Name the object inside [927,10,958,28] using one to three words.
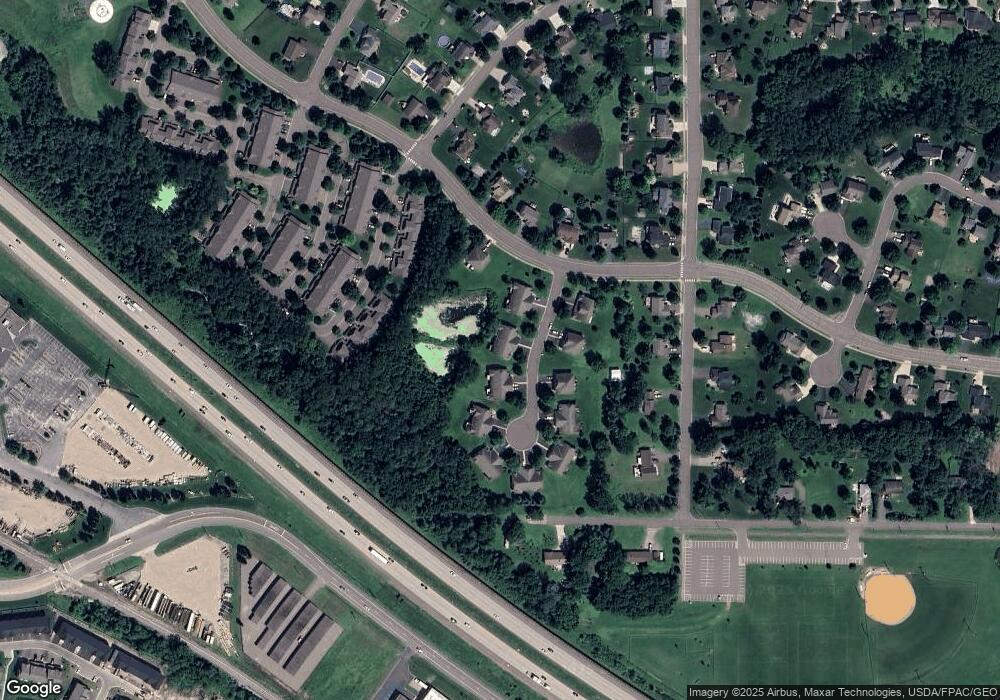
house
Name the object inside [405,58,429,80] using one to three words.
swimming pool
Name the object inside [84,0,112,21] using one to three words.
water tower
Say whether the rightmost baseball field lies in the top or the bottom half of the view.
bottom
